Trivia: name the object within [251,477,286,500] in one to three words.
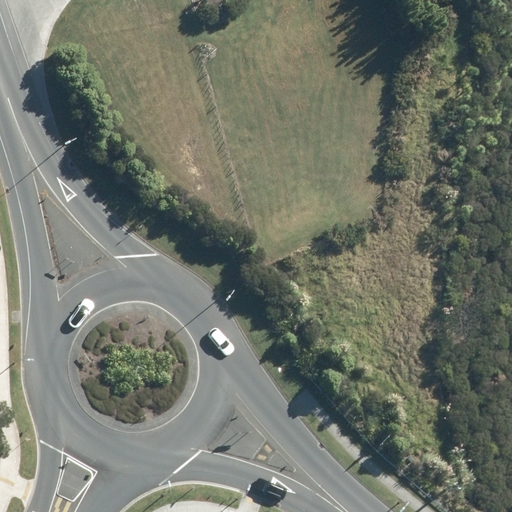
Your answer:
car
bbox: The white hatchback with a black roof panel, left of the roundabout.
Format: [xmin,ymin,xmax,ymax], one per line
[69,298,94,328]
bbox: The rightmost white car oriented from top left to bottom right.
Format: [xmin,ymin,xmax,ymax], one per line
[208,327,234,355]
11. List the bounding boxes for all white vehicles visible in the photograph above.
[69,298,94,328]
[208,327,234,355]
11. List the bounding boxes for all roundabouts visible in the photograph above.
[28,261,240,473]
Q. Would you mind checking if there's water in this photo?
No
